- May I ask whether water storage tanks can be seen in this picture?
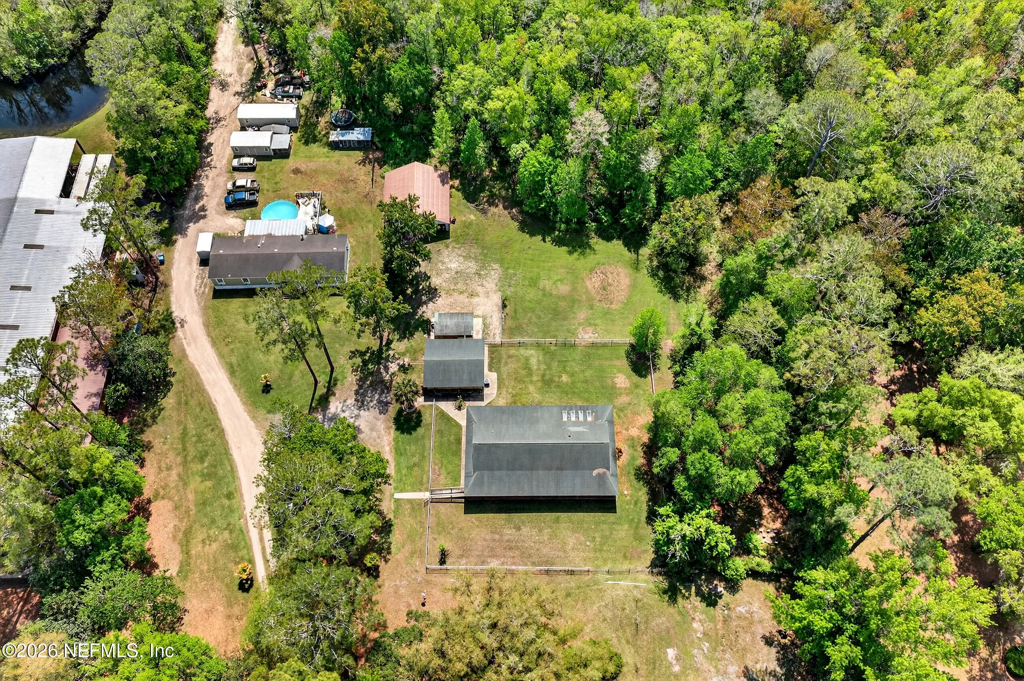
No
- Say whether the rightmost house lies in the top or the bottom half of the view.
bottom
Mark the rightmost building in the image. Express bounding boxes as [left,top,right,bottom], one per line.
[464,406,618,500]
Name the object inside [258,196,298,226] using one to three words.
swimming pool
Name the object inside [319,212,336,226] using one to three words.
umbrella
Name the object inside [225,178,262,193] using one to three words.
vehicle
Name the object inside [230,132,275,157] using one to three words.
shed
